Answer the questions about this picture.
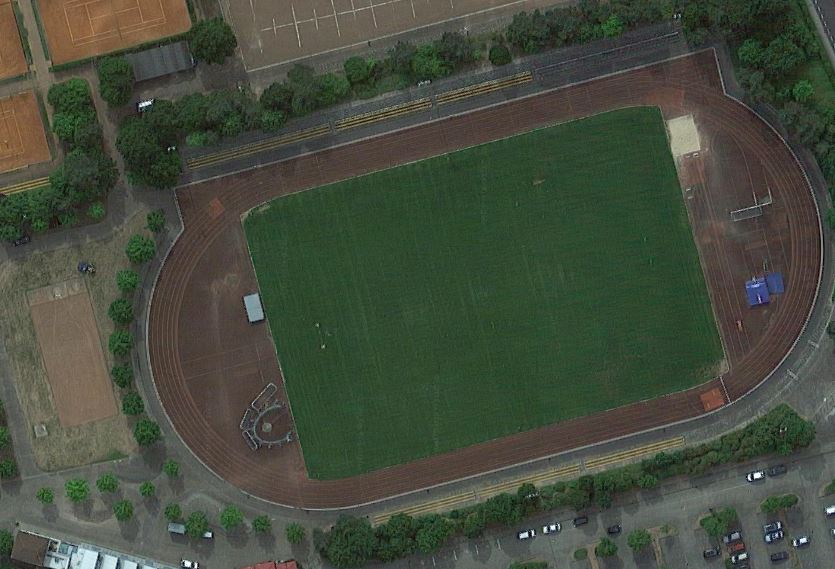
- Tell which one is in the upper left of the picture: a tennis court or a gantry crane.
tennis court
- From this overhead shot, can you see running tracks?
Yes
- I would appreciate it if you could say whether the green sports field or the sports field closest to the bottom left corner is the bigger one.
the green sports field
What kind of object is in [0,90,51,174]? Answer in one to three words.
tennis court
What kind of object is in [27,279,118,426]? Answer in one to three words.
sports field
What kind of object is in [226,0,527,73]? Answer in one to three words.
sports court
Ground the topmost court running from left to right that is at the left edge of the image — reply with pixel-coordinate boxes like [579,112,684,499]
[38,0,191,66]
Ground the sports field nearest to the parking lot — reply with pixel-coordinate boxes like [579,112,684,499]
[240,105,728,481]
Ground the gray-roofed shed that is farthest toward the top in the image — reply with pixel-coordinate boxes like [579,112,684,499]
[130,41,194,82]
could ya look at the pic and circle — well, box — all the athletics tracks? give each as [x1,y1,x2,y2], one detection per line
[148,48,822,509]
